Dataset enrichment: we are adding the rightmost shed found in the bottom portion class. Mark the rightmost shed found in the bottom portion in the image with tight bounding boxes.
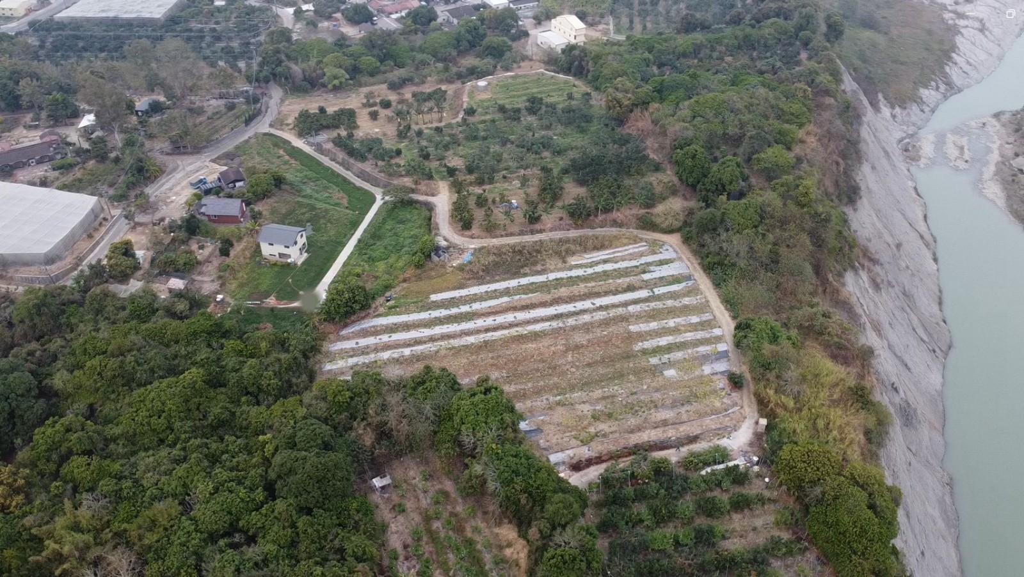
[369,463,394,494]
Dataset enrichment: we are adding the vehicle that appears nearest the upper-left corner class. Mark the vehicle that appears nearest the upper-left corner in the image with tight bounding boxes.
[187,175,210,188]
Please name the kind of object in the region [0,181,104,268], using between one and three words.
greenhouse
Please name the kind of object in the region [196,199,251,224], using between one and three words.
house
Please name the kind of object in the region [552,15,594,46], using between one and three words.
house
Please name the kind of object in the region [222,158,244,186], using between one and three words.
shed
